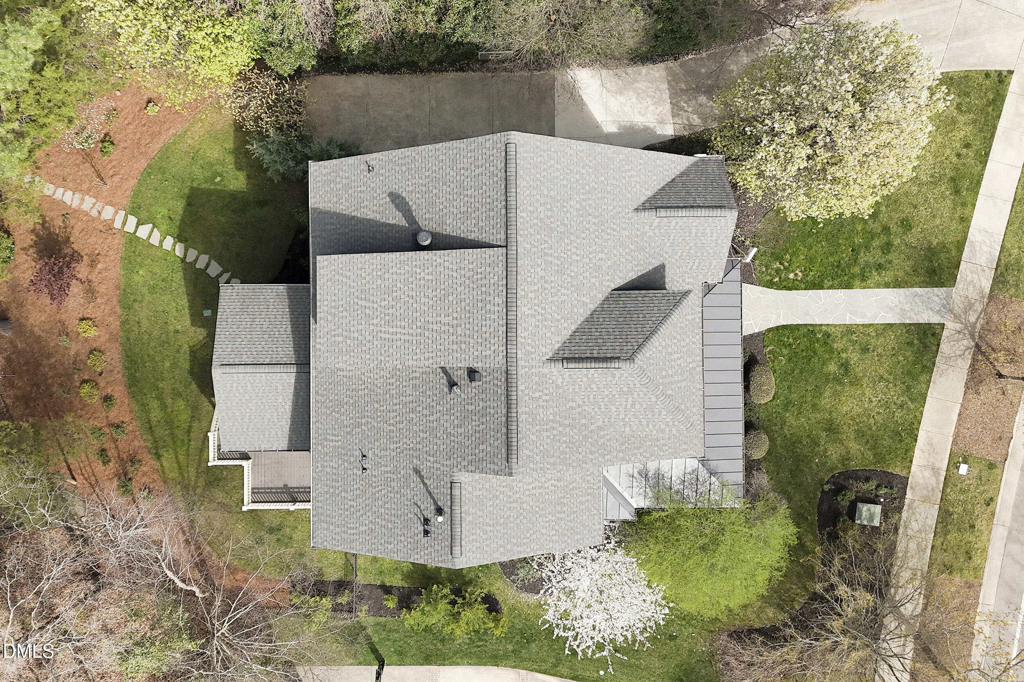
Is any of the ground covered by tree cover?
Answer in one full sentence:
Yes, there is tree cover in the image.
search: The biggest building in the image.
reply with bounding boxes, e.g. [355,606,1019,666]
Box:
[212,130,757,573]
